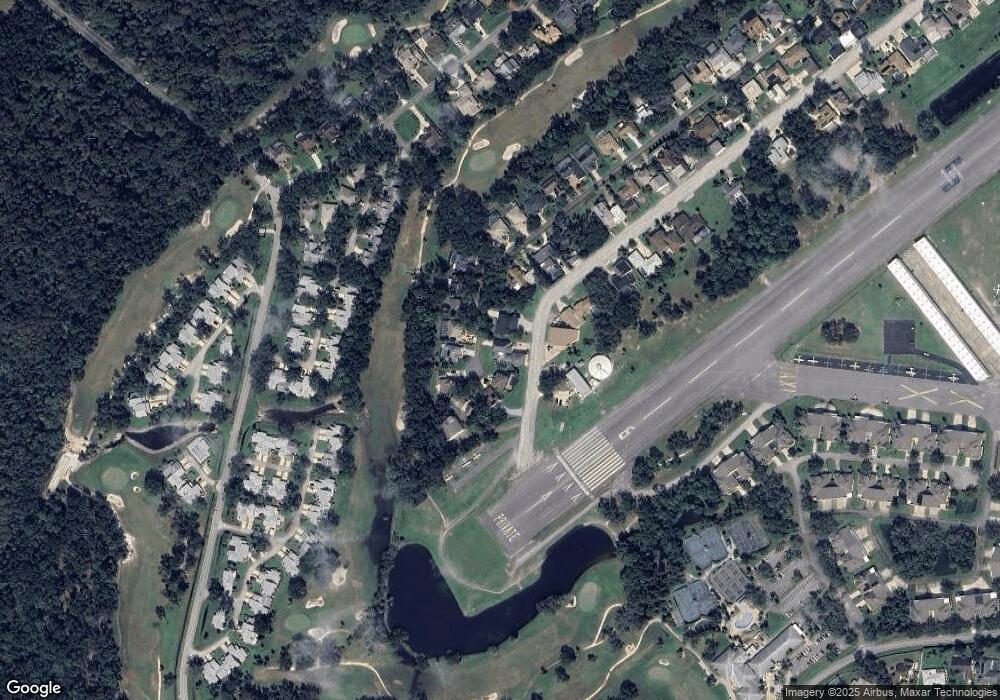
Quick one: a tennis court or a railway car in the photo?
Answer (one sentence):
It is a tennis court that can be seen here.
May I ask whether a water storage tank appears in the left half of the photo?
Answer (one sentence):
No, in the left half of the photo there is no water storage tank.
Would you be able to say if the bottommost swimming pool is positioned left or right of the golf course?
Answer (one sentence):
The bottommost swimming pool is to the right of the golf course.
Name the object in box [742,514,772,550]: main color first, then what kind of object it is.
gray tennis court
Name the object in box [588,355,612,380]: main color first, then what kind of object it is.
white water tank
